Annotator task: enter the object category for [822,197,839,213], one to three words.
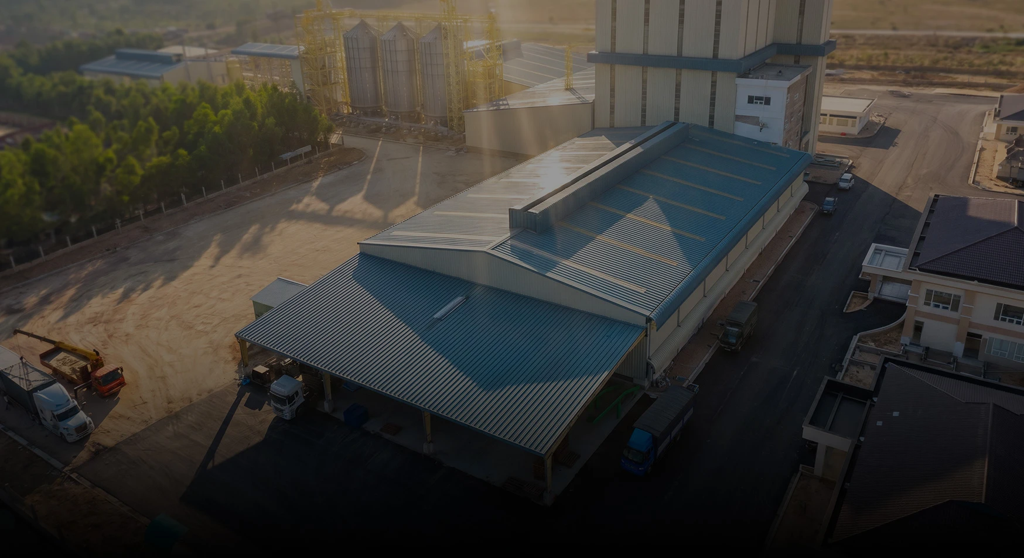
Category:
vehicle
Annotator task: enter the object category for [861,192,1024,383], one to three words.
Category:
house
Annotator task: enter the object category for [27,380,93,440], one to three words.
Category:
truck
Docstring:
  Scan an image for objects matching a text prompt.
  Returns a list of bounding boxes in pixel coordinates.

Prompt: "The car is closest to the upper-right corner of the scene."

[838,173,853,188]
